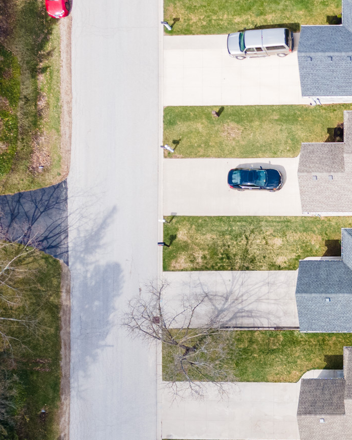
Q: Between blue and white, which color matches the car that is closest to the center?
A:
blue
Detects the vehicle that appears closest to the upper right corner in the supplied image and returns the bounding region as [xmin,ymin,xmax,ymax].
[231,30,295,61]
